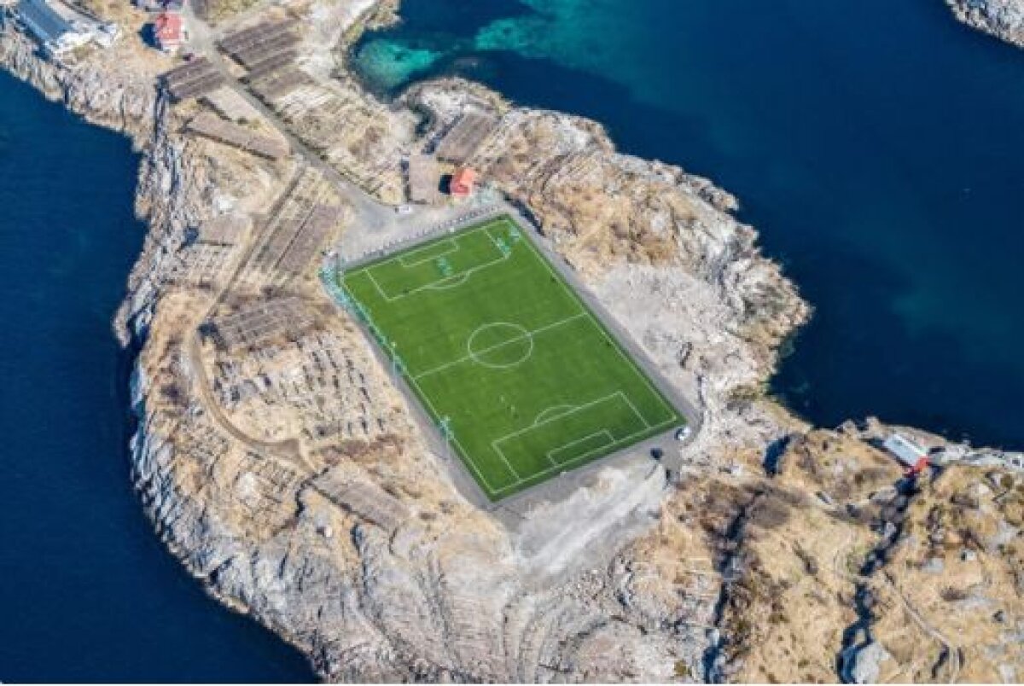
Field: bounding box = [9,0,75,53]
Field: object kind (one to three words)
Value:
building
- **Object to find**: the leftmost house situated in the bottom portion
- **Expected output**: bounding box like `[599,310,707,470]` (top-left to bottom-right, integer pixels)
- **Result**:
[882,429,938,472]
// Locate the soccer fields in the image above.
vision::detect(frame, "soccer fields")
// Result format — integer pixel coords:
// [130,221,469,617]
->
[335,215,687,503]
